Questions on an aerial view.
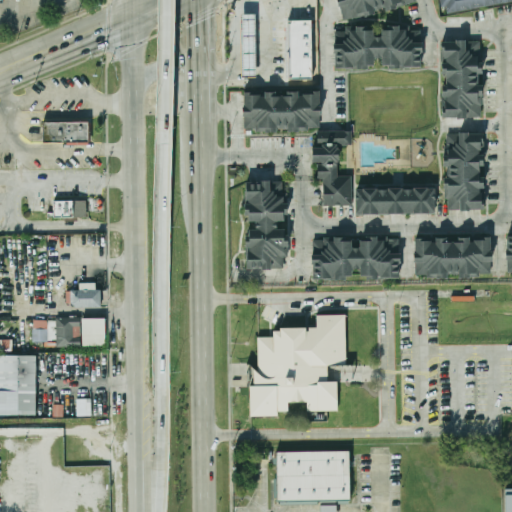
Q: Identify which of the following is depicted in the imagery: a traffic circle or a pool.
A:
pool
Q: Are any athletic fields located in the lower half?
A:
No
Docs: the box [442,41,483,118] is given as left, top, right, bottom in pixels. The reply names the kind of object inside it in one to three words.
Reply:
building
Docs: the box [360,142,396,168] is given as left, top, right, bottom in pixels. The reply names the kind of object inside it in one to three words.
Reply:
swimming pool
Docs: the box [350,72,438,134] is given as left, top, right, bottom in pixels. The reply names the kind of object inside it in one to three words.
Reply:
sports field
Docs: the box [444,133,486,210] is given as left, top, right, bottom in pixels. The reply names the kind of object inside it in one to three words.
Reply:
building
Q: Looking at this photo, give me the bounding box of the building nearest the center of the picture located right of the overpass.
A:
[246,186,286,264]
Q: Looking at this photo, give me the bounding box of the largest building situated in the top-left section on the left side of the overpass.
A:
[44,121,90,145]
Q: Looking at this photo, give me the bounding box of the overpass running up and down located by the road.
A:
[151,0,176,512]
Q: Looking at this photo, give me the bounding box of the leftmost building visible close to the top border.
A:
[242,14,256,78]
